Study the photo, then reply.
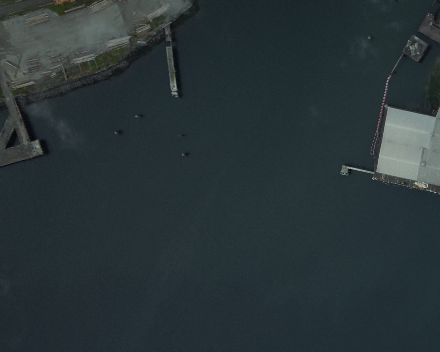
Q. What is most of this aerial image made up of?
water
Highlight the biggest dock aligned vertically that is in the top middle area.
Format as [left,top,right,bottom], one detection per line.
[165,24,182,91]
